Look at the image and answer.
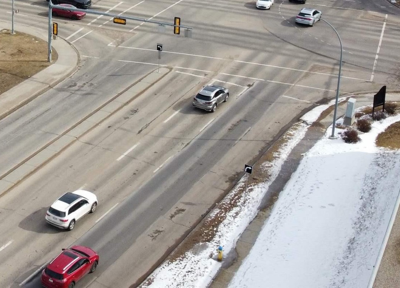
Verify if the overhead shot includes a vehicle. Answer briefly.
Yes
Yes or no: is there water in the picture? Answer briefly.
No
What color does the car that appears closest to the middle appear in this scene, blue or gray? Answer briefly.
gray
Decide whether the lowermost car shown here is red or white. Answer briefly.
red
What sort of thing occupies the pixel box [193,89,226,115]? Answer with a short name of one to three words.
car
